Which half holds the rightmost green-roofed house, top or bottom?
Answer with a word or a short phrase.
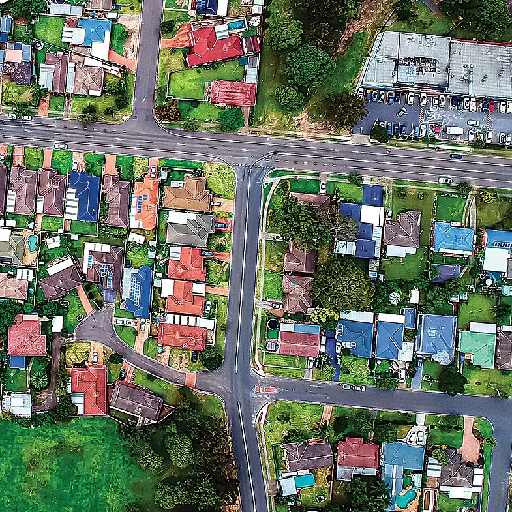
bottom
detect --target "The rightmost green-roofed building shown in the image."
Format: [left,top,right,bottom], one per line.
[456,322,497,366]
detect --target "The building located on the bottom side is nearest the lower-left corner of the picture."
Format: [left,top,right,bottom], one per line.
[1,391,31,418]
